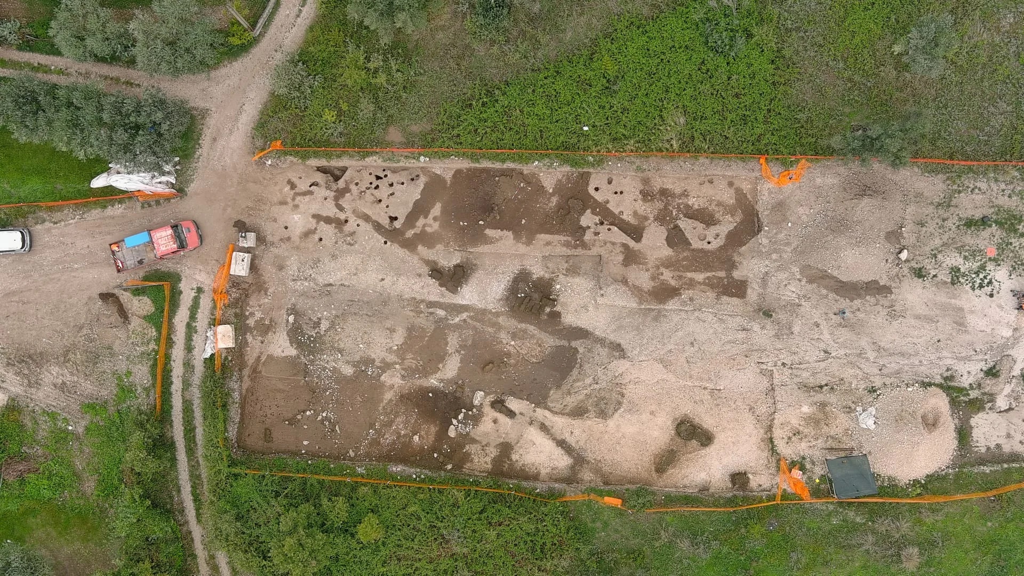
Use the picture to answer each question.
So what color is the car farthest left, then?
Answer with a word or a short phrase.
white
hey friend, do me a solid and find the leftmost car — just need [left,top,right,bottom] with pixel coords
[0,226,34,255]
